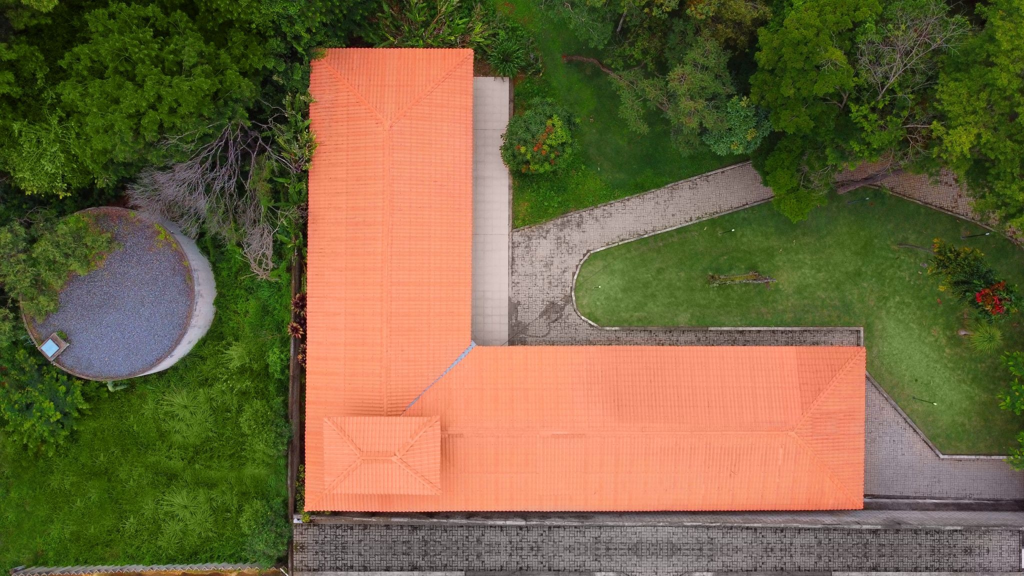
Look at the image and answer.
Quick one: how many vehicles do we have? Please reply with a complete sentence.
There are no vehicles in the image.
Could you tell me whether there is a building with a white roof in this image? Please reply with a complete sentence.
No, I can't see a single building with a white roof in this photo.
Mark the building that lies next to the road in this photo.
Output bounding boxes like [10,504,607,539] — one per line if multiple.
[304,47,867,512]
